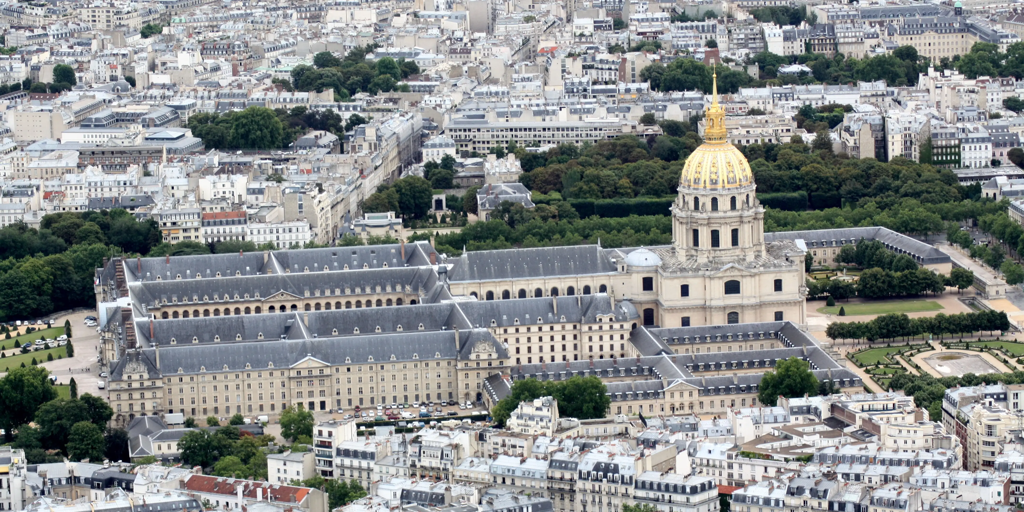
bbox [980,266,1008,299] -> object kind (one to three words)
building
